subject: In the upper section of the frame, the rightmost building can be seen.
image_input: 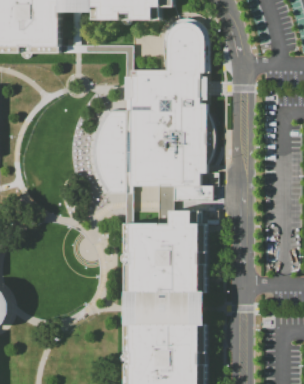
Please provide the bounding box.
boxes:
[94,17,226,220]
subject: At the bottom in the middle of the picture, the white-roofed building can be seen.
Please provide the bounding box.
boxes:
[119,211,208,384]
